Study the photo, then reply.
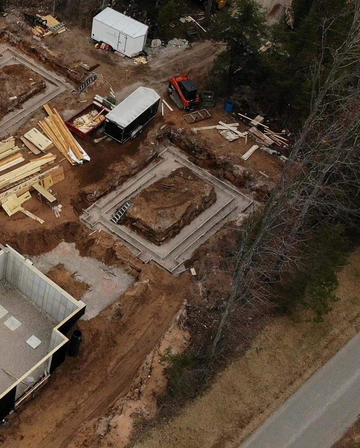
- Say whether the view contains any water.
No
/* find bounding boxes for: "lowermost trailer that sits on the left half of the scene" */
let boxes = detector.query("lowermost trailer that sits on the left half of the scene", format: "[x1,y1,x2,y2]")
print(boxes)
[101,88,161,144]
